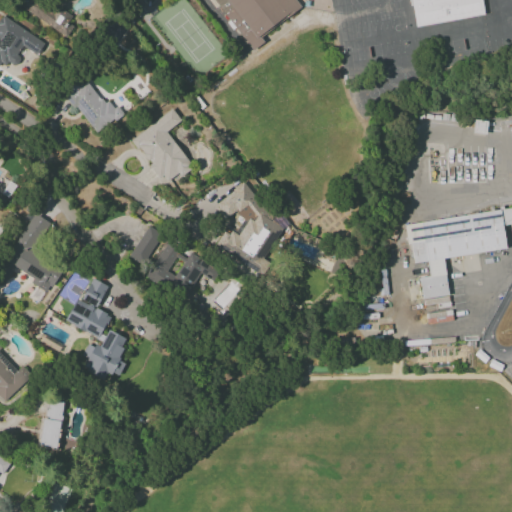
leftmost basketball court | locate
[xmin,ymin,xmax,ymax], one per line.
[60,276,90,304]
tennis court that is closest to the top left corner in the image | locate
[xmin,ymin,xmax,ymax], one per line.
[154,0,226,72]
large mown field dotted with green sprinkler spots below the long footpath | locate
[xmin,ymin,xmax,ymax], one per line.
[134,380,512,512]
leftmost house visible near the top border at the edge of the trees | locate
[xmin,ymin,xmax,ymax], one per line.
[0,16,48,66]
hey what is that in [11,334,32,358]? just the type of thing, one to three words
swimming pool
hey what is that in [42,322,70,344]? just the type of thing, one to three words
swimming pool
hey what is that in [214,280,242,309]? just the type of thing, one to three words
building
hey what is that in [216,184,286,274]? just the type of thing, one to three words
house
